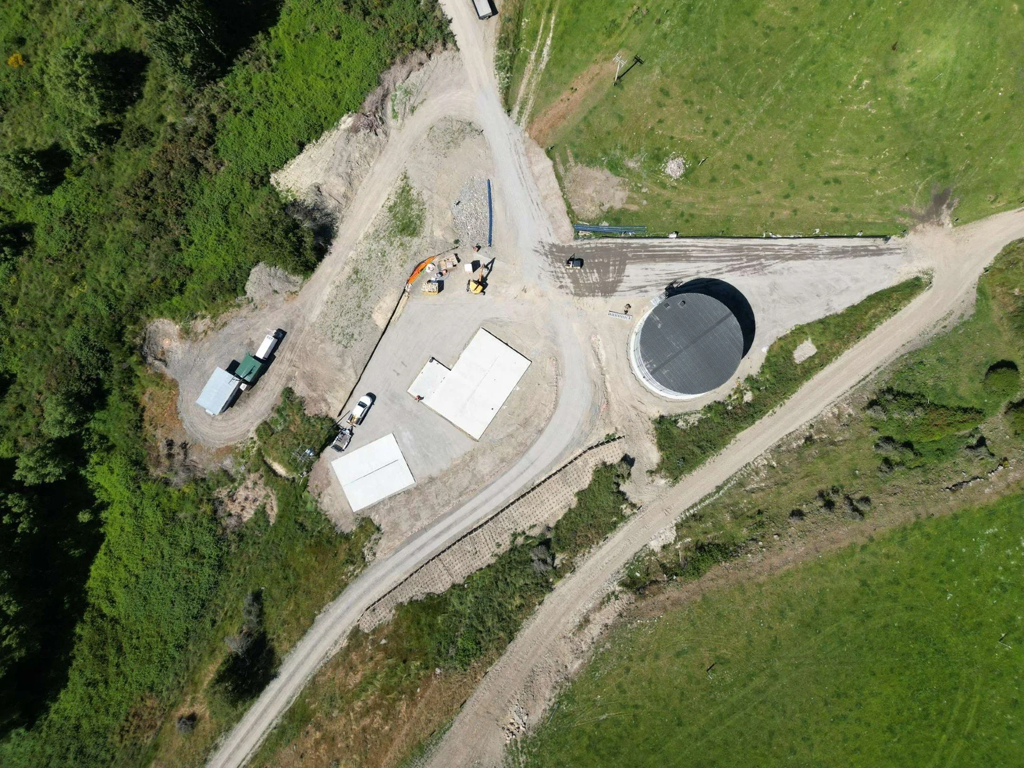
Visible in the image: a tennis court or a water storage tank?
water storage tank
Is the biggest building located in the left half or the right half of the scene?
left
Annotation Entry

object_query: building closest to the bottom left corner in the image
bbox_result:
[191,367,239,414]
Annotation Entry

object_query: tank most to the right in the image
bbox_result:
[630,285,744,397]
